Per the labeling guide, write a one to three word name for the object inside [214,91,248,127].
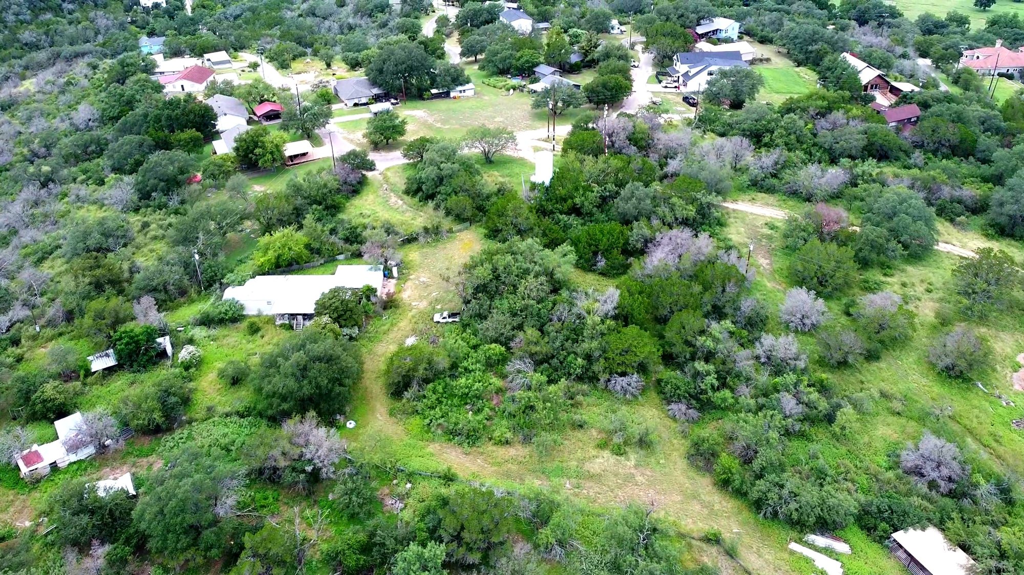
house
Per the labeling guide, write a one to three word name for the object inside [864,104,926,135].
house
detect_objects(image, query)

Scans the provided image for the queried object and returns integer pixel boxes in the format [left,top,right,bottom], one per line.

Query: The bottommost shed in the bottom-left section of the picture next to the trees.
[90,470,137,507]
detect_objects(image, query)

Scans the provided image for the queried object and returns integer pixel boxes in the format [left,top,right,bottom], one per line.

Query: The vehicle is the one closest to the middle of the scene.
[434,311,461,323]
